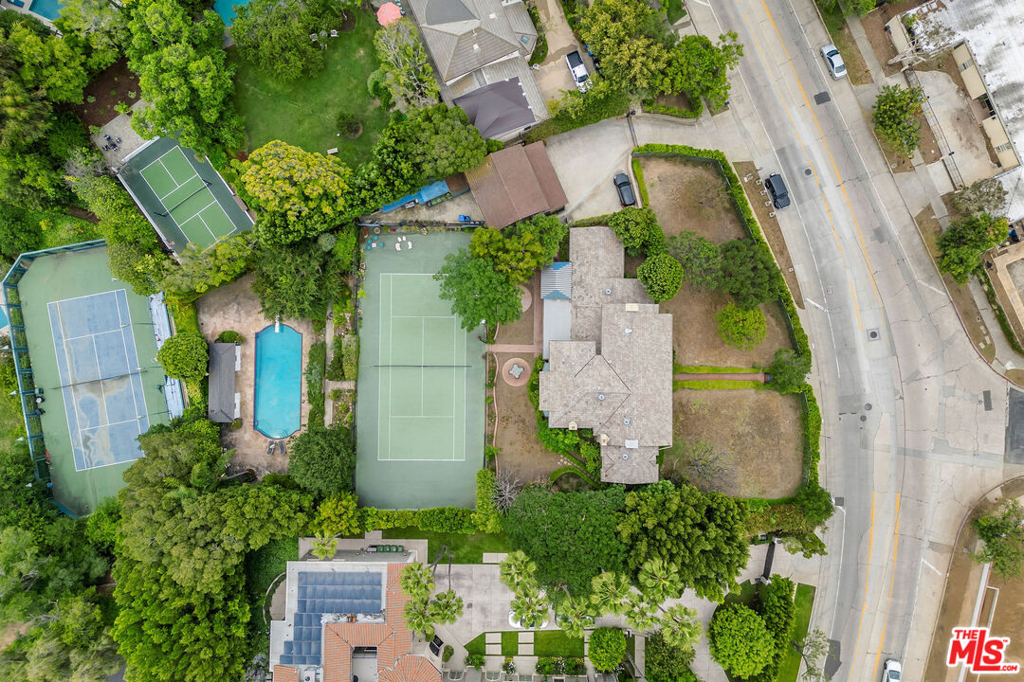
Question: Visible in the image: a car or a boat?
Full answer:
This aerial view contains a car.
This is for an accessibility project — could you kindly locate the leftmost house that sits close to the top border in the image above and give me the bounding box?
[409,0,553,146]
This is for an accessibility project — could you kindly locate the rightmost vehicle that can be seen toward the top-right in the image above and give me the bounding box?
[818,42,847,82]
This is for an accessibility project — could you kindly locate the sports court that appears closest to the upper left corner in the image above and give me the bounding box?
[120,129,254,269]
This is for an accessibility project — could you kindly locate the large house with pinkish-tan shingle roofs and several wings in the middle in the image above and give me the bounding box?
[540,225,676,487]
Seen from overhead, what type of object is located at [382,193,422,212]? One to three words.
shed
